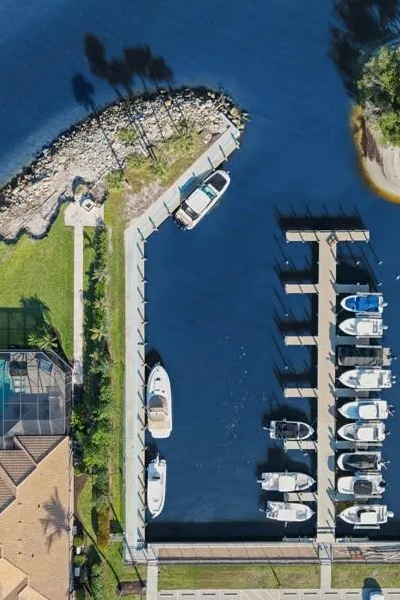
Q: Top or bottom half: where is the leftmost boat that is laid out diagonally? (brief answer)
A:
top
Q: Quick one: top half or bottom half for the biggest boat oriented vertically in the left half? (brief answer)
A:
bottom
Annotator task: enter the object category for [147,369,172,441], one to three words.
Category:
boat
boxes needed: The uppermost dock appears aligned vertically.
[285,228,369,543]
